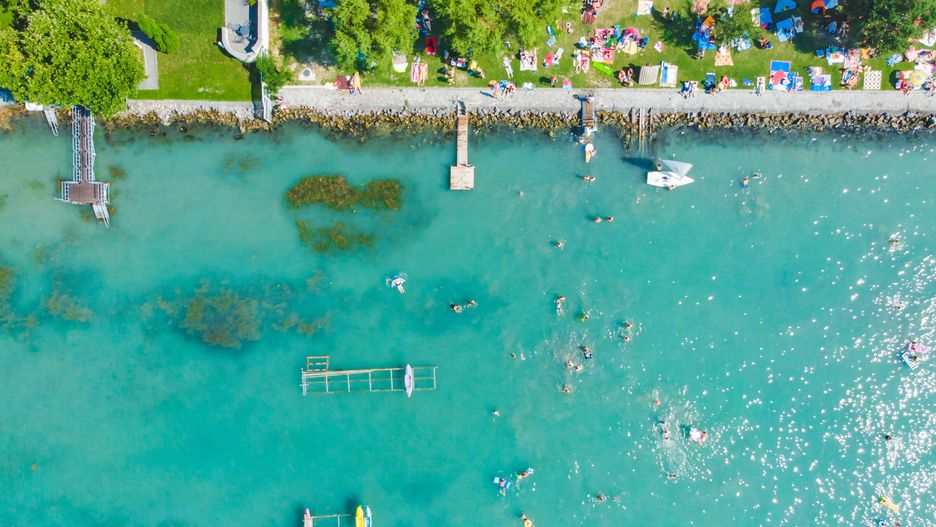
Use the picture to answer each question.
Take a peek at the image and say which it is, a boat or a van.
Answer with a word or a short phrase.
boat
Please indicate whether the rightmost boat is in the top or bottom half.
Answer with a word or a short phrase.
top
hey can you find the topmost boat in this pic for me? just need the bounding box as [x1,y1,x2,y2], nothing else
[646,158,696,187]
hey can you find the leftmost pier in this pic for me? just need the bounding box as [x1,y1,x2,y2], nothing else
[57,105,116,229]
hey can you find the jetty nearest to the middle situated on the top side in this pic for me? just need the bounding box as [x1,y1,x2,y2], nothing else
[450,98,474,190]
